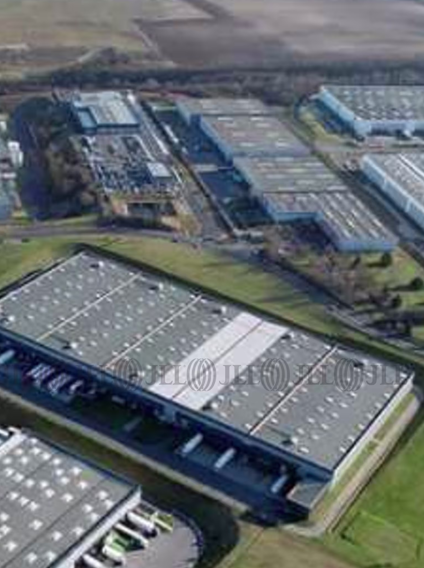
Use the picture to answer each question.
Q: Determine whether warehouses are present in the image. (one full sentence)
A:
Yes, there's a warehouse here.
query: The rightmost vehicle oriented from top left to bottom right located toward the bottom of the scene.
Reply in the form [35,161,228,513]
[127,513,157,539]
